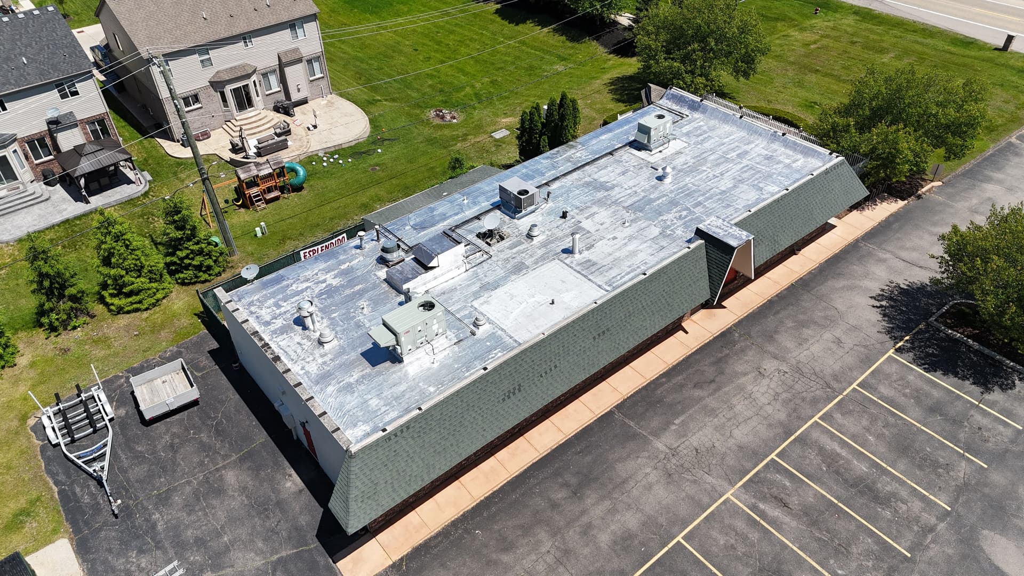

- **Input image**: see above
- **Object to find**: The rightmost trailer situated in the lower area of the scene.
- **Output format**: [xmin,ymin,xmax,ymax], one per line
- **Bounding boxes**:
[122,357,203,425]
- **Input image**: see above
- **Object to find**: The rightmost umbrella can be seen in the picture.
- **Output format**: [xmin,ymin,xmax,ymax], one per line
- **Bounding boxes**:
[239,128,256,160]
